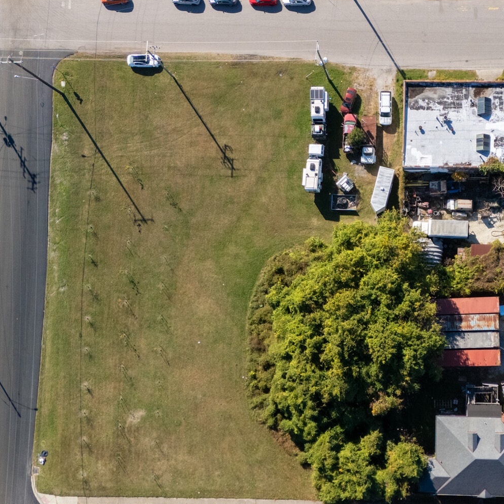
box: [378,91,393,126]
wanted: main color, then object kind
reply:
white car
